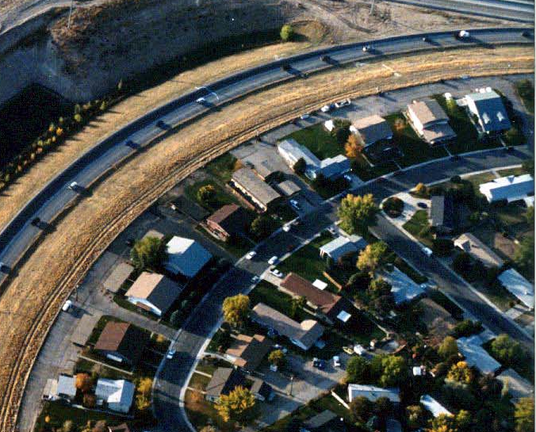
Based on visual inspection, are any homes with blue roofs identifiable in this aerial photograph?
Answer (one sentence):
Yes, there's a home with a blue roof here.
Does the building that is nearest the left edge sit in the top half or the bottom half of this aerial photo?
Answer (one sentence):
The bottom half of the photo is where the building that is nearest the left edge is.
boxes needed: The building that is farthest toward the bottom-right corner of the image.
[499,371,536,400]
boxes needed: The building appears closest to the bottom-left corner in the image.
[53,376,80,402]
